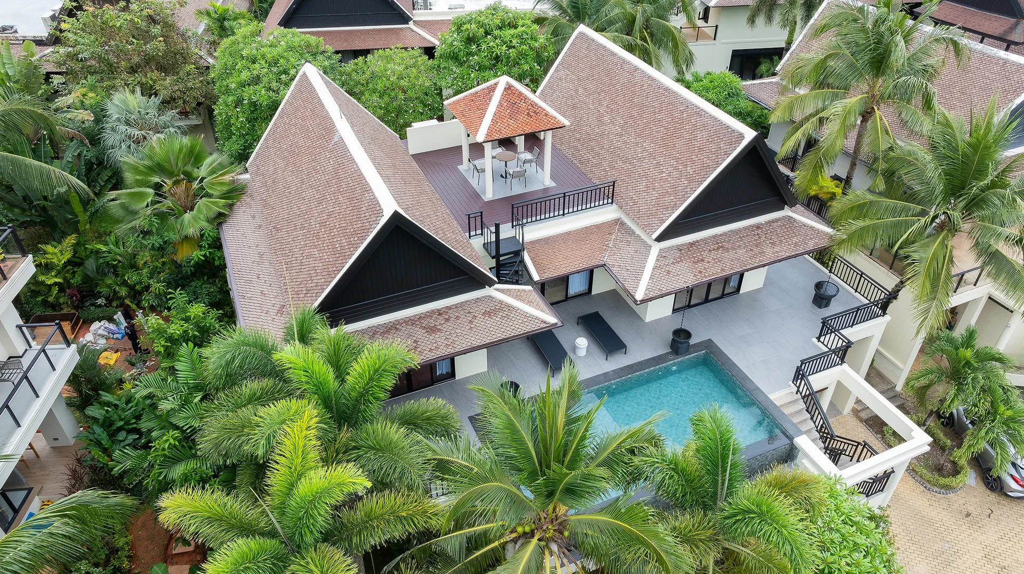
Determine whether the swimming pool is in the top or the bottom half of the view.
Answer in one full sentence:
The swimming pool is in the bottom half of the image.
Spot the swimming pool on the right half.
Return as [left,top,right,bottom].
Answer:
[468,339,804,574]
